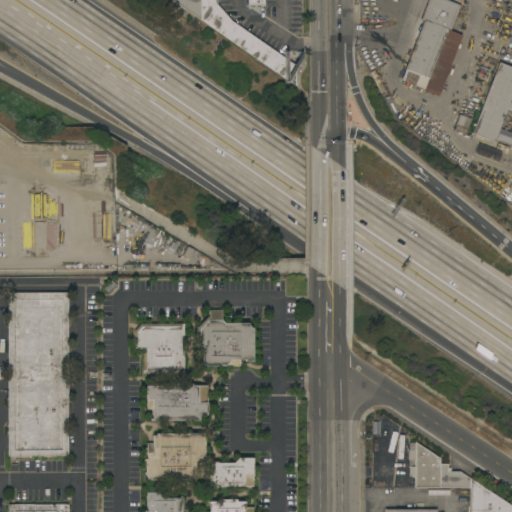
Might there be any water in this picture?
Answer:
No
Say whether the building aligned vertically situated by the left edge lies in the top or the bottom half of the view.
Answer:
bottom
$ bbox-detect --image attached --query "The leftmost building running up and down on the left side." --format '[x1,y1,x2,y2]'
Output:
[8,292,70,458]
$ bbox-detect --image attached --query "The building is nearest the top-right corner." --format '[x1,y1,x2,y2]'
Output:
[424,0,464,29]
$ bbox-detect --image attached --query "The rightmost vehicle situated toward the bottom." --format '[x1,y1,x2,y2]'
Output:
[476,340,498,356]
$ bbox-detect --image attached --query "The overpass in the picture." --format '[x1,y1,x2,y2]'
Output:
[306,142,354,294]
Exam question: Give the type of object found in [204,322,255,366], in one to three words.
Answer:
building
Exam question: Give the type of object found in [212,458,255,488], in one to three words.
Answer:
building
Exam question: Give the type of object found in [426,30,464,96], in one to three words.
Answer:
shed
